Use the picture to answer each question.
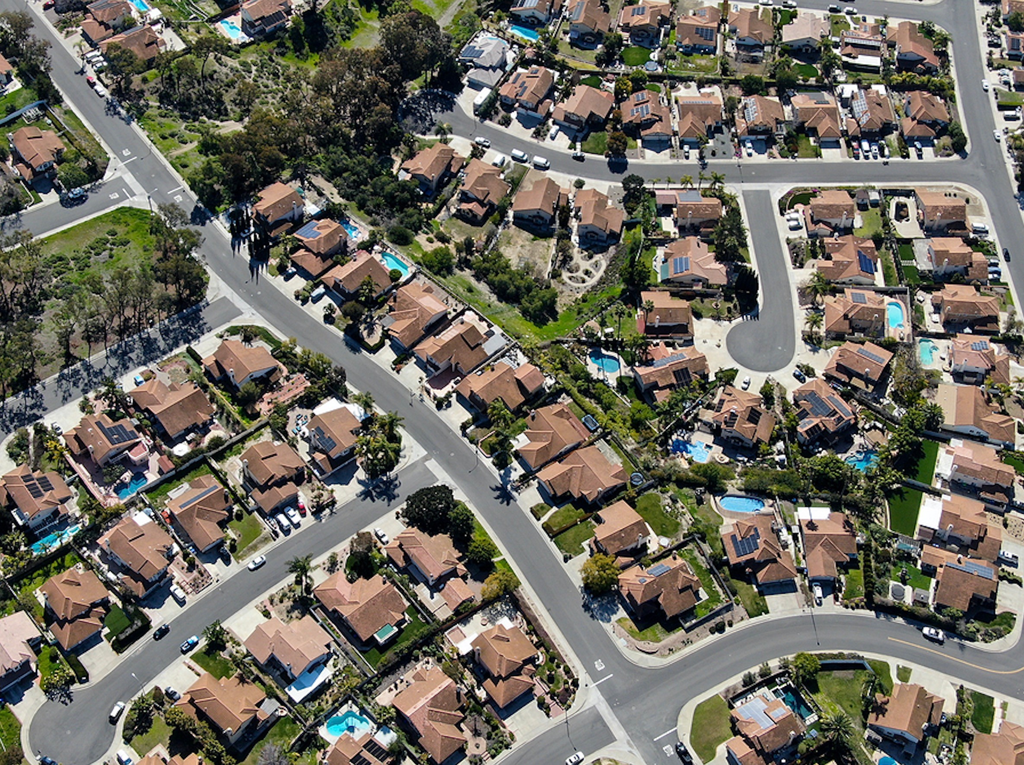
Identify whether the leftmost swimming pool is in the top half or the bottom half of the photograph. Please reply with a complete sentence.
You can find the leftmost swimming pool in the bottom half.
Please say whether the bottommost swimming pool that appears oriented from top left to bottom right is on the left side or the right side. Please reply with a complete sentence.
The bottommost swimming pool that appears oriented from top left to bottom right sits on the right side.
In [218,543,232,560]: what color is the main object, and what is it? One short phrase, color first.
black car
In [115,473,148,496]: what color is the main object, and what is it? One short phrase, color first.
blue swimming pool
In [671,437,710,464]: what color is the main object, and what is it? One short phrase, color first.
blue swimming pool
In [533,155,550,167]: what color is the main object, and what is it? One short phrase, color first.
white vehicle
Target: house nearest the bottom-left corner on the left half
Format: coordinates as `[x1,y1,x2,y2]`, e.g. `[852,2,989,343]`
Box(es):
[0,606,43,686]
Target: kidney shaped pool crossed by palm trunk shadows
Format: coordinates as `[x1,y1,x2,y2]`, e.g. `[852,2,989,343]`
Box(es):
[588,348,620,373]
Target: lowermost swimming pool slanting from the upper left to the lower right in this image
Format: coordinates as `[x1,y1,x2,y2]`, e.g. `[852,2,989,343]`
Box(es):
[785,689,812,718]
